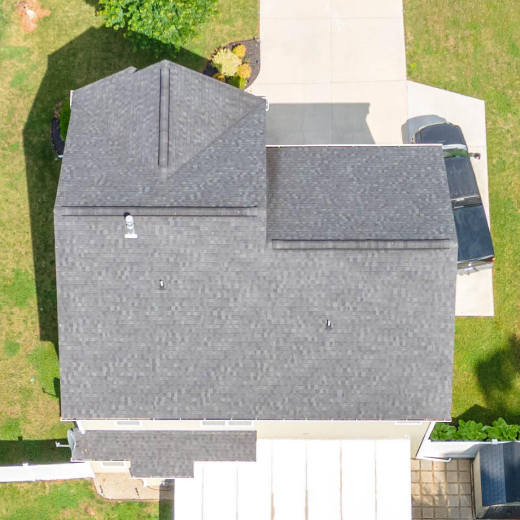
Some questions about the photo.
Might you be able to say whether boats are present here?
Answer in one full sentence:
No, there's no boat here.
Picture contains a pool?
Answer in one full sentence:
No, there is no pool in the image.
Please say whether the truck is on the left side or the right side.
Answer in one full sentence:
You can find the truck on the right side of the picture.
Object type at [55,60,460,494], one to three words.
house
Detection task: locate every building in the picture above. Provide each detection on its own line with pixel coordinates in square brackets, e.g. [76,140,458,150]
[55,60,460,494]
[470,441,520,518]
